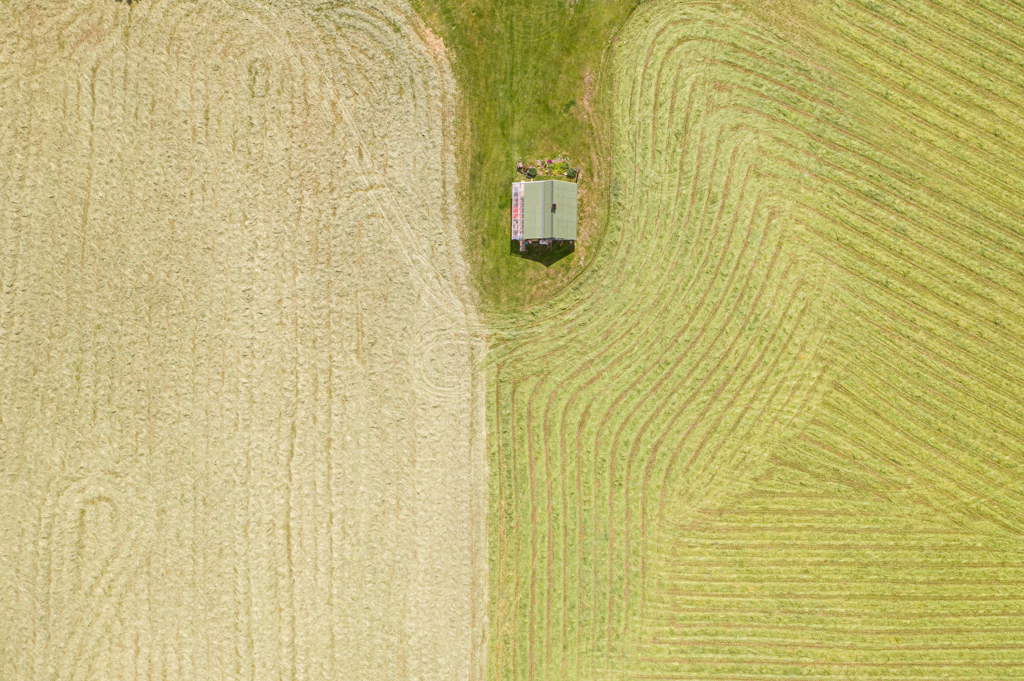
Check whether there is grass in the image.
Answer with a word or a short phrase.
Yes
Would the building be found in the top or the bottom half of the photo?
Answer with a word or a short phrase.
top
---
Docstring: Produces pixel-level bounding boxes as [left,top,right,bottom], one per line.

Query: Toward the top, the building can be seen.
[512,179,577,241]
